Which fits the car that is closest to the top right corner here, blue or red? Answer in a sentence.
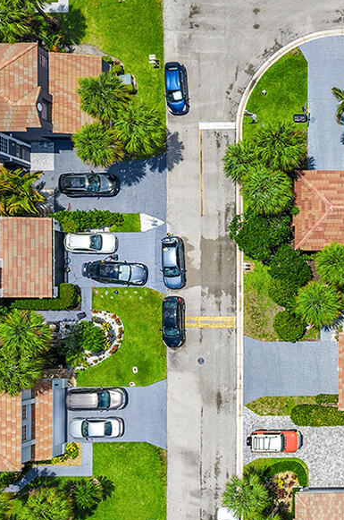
In this view, the car that is closest to the top right corner is blue.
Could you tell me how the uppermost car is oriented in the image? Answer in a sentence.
From this overhead view, the uppermost car appears to run up and down.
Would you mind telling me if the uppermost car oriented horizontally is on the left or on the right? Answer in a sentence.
It is on the left.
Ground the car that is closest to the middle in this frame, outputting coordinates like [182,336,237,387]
[160,236,188,289]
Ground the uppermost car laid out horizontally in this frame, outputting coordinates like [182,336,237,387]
[61,171,119,197]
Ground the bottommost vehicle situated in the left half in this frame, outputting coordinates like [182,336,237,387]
[71,414,127,440]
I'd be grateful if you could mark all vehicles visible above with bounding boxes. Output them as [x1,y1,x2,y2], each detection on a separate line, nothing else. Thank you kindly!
[69,385,128,412]
[71,414,127,440]
[250,429,305,455]
[160,296,188,347]
[65,231,121,256]
[61,171,119,197]
[88,260,149,286]
[160,236,188,289]
[164,63,190,116]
